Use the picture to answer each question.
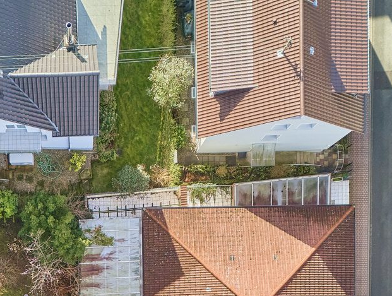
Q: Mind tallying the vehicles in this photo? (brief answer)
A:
0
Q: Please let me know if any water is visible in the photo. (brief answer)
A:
No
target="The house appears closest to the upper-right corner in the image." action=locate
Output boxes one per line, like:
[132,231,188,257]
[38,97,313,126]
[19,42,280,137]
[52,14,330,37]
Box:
[176,0,369,173]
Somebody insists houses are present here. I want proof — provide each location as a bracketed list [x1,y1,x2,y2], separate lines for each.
[79,174,356,296]
[176,0,369,173]
[0,0,124,156]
